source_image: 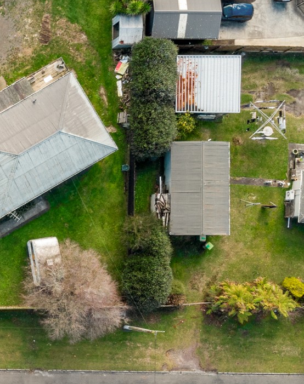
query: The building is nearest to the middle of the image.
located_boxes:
[161,141,230,235]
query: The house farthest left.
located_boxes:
[0,72,119,220]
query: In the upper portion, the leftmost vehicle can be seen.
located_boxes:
[221,3,259,25]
